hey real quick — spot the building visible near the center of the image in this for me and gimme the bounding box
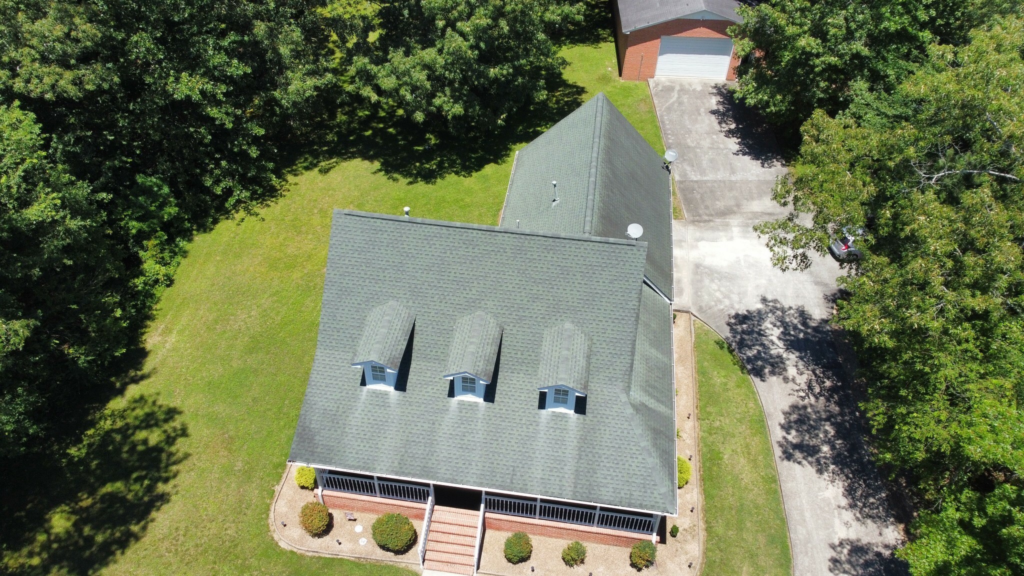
[288,91,676,576]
